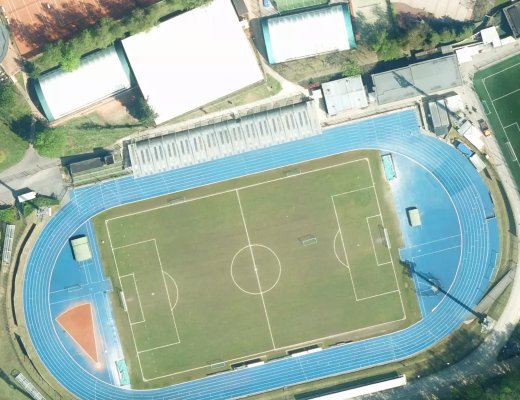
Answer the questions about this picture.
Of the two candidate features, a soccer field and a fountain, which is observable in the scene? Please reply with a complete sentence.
Of the two, only a soccer field appears.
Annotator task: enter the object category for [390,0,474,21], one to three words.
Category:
sports court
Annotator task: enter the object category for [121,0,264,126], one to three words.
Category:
building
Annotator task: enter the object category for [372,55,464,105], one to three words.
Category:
building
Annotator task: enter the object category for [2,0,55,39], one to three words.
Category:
tennis court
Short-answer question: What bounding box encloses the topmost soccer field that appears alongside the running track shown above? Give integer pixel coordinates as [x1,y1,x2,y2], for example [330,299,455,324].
[473,54,520,191]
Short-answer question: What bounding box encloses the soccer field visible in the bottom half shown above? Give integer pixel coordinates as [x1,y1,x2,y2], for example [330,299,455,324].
[91,148,422,389]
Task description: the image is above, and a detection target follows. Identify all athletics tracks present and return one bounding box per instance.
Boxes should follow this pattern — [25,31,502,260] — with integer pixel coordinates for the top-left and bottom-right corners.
[20,103,499,400]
